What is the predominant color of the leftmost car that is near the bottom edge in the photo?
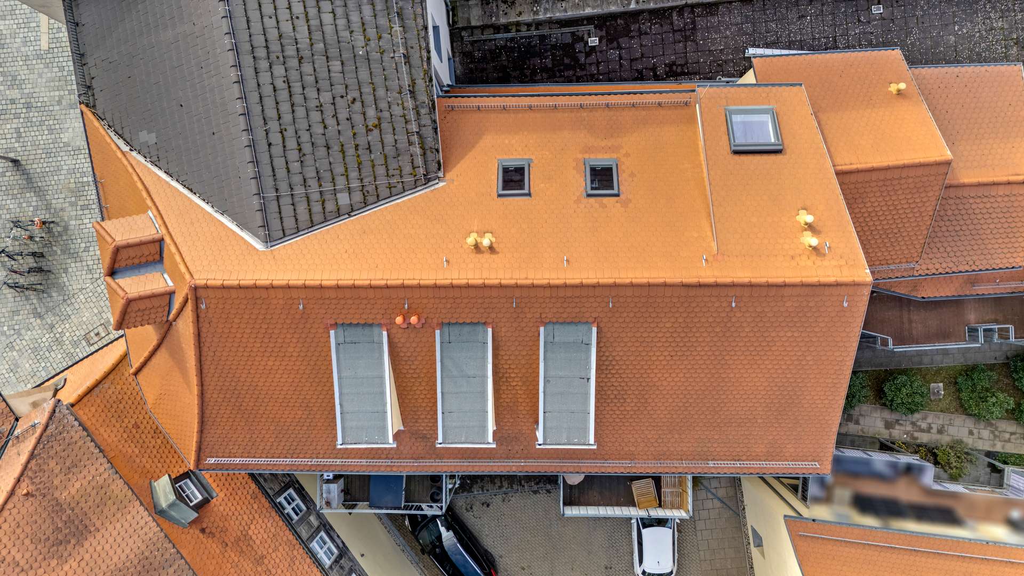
black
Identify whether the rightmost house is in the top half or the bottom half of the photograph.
top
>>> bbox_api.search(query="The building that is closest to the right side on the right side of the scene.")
[909,59,1024,279]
